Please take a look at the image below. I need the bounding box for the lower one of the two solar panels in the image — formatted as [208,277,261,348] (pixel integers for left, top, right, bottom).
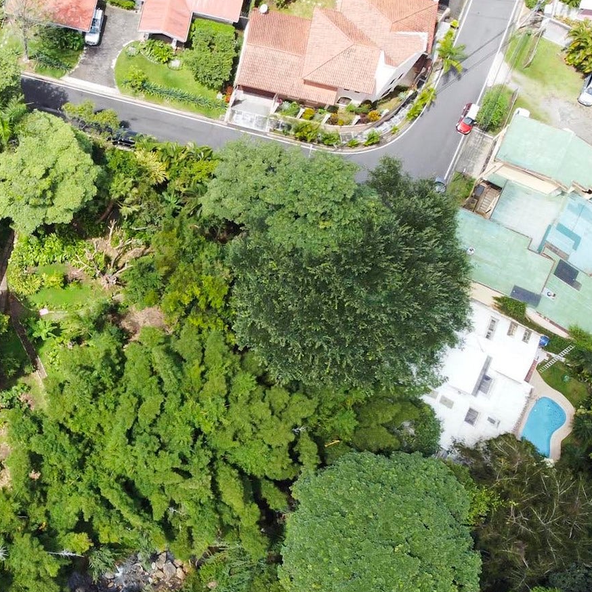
[510,286,541,306]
